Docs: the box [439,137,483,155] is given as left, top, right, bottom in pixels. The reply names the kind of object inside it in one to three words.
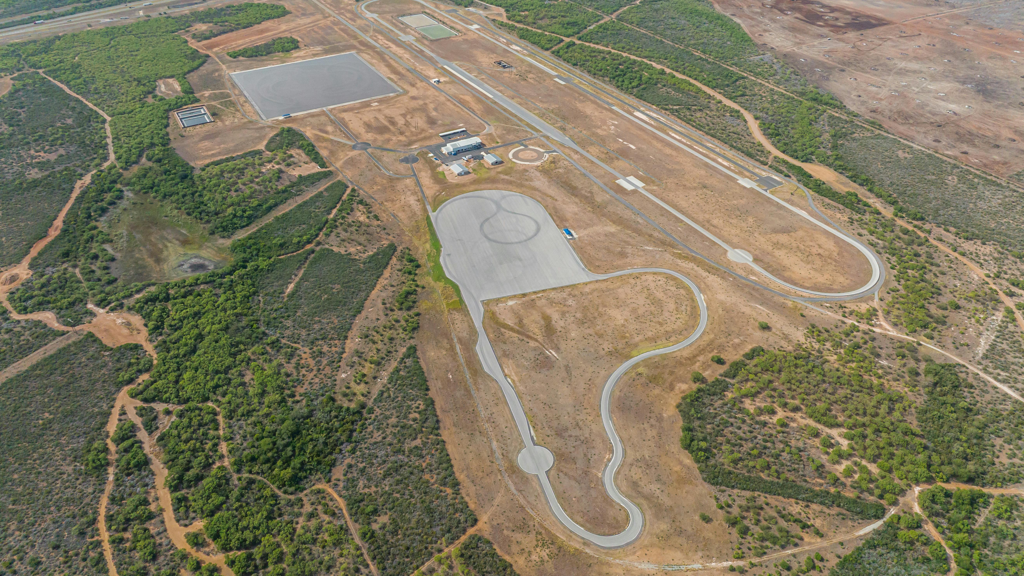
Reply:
building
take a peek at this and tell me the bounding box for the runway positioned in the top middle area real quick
[433,55,638,190]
